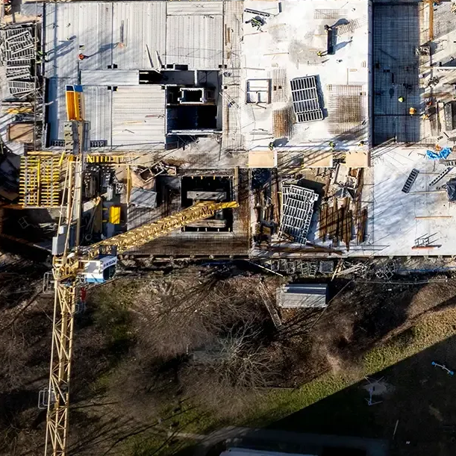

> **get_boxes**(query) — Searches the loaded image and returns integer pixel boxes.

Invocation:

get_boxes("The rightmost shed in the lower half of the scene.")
[276,280,331,308]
